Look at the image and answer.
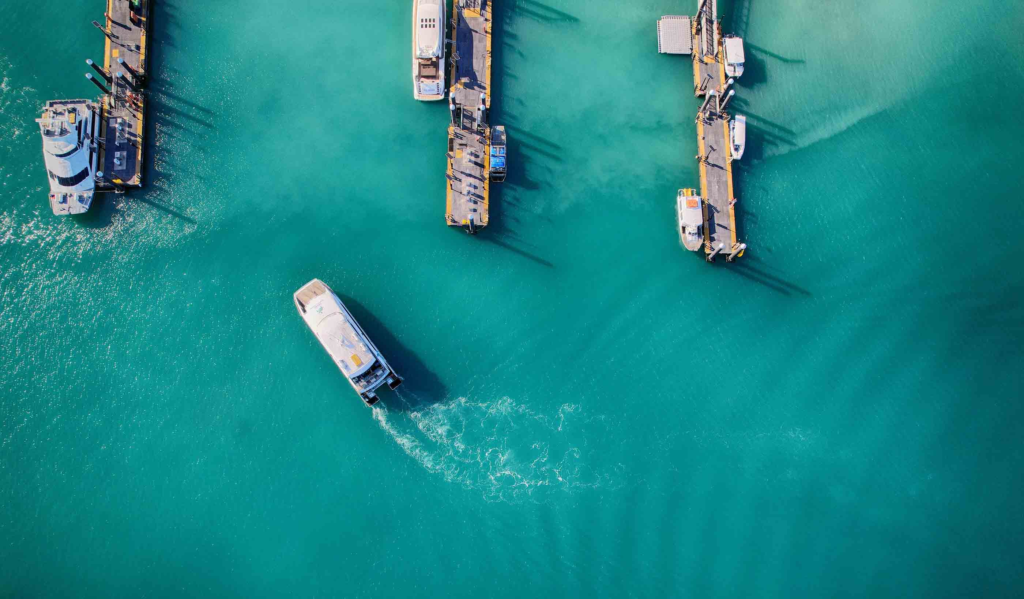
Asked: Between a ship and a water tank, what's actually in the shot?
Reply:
ship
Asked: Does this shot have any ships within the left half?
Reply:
Yes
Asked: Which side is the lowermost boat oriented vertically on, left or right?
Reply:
right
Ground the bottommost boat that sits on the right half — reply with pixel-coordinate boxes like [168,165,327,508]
[677,188,704,252]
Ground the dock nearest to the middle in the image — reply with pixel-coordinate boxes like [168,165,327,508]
[446,127,491,228]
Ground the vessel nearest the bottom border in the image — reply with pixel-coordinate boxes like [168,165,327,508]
[294,279,403,406]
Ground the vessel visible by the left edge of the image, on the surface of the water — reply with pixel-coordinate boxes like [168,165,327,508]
[35,99,101,216]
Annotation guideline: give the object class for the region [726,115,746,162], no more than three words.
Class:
boat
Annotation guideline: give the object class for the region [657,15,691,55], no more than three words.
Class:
pier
